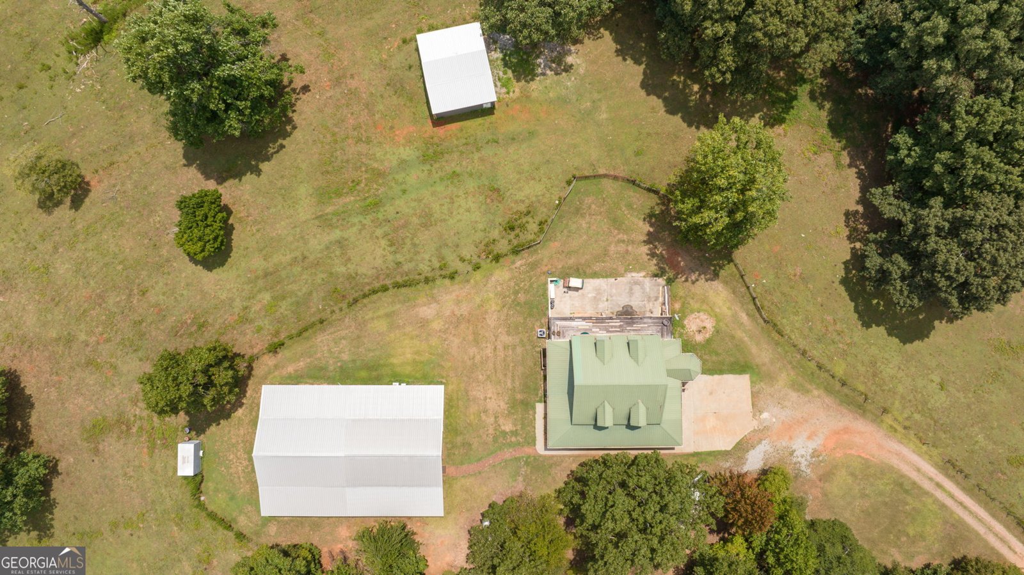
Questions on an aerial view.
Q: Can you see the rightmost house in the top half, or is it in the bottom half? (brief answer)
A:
bottom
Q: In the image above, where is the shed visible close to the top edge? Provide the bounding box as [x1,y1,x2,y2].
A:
[416,22,496,119]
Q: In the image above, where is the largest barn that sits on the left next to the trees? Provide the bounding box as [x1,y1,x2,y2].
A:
[254,384,446,517]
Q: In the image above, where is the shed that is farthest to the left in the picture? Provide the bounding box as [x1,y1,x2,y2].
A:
[178,441,204,476]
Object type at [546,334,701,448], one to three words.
house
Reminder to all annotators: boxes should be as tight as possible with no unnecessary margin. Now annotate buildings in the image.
[416,22,496,119]
[178,441,204,476]
[546,334,701,448]
[254,384,446,517]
